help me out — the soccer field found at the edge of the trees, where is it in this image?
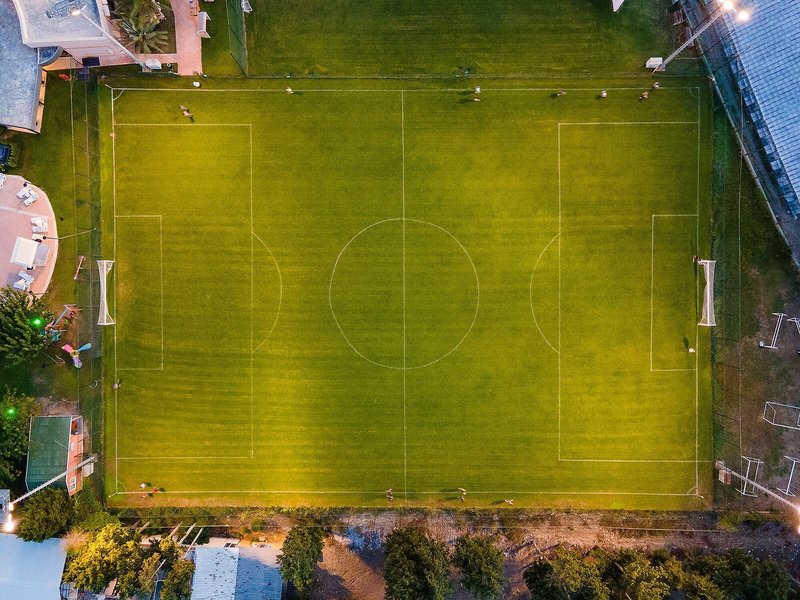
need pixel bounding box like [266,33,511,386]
[98,78,713,510]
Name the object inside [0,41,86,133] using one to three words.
house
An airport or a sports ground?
sports ground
